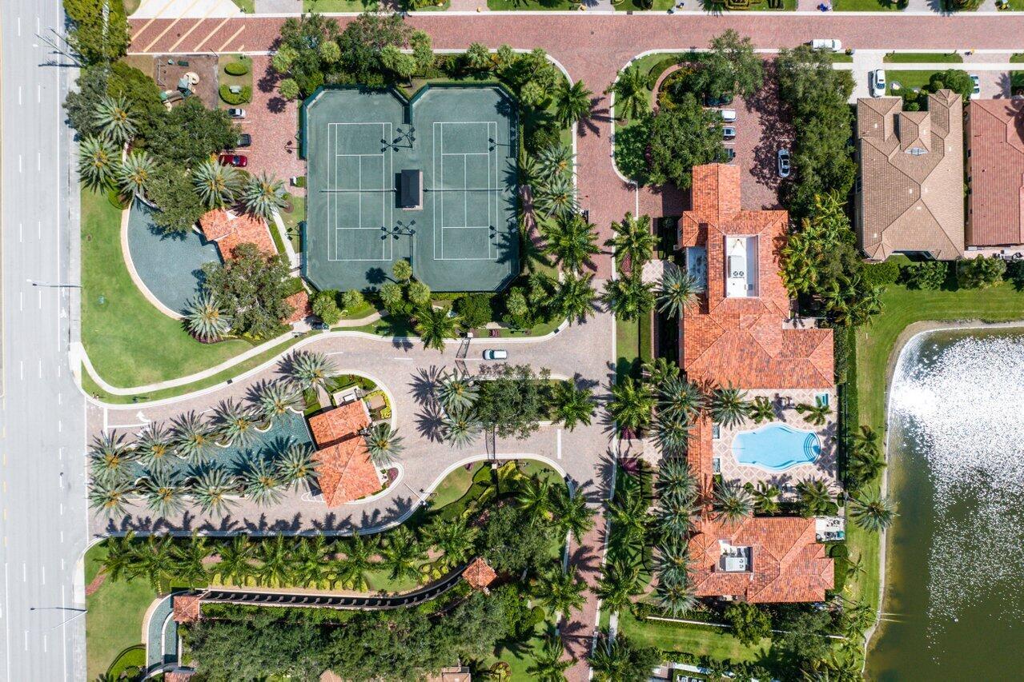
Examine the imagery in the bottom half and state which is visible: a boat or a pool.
pool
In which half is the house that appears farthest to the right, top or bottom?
top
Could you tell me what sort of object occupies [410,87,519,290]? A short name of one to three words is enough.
tennis court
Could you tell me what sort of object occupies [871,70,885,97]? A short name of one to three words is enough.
car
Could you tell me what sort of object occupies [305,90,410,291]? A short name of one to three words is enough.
tennis court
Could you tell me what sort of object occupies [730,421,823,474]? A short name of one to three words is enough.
swimming pool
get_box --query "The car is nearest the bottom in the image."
[482,348,508,361]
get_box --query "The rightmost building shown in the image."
[962,99,1024,245]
